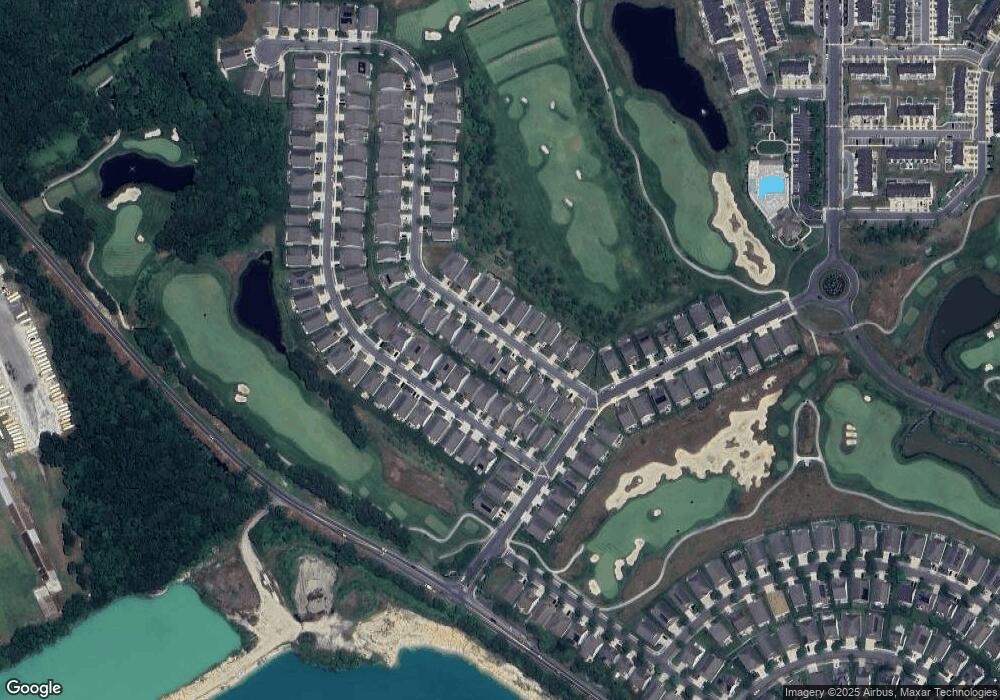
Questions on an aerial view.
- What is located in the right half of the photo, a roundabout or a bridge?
roundabout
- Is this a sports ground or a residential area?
residential area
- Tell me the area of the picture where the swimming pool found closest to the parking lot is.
top right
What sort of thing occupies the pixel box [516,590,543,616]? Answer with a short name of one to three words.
house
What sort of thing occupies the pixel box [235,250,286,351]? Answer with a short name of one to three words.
pond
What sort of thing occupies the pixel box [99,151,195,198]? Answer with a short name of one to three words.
pond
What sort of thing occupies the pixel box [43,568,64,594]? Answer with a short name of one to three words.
barn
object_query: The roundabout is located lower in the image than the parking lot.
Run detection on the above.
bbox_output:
[807,259,858,309]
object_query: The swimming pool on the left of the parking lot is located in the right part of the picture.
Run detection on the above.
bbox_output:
[748,160,789,218]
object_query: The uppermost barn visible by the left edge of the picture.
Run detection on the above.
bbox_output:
[0,463,54,575]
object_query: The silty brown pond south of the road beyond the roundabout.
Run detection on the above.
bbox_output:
[902,413,1000,502]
